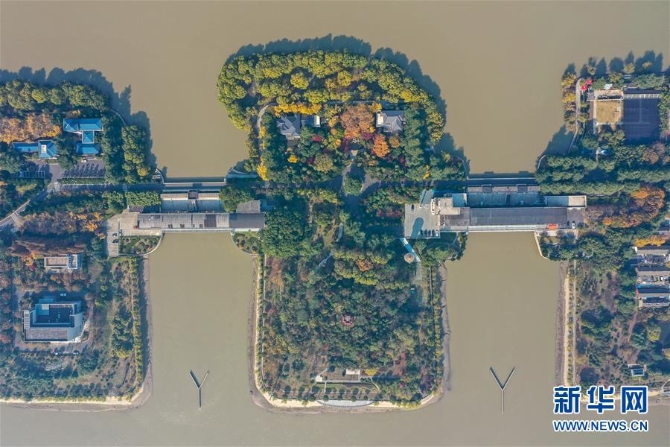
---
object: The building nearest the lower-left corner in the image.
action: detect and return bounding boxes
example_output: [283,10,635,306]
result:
[24,298,86,342]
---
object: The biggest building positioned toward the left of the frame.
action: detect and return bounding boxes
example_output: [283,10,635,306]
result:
[129,200,266,233]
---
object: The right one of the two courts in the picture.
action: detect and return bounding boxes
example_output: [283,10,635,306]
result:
[620,86,662,141]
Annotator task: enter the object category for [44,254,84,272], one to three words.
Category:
building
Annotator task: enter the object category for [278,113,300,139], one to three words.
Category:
house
